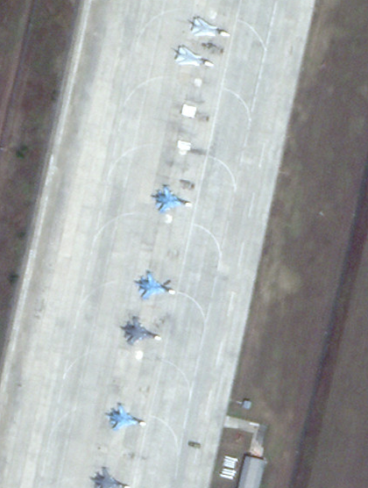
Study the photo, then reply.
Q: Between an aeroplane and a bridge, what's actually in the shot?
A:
aeroplane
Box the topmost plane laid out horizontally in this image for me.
[190,19,230,38]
